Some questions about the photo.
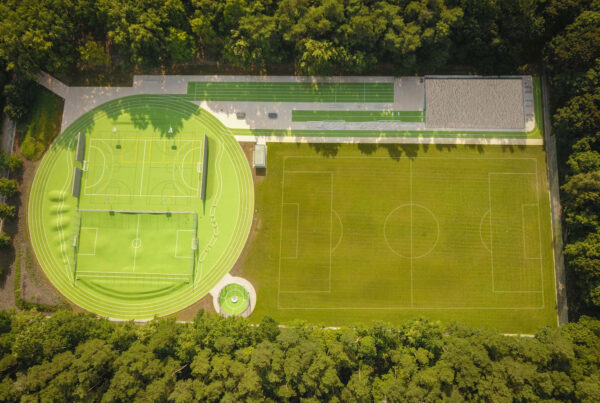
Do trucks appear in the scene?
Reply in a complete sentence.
No, the photo shows no truck.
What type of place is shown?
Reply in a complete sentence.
It's a sports ground.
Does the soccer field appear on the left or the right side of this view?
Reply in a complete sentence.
The soccer field appears in the right half of the scene.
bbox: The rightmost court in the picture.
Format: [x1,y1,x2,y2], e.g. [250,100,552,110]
[220,284,250,313]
